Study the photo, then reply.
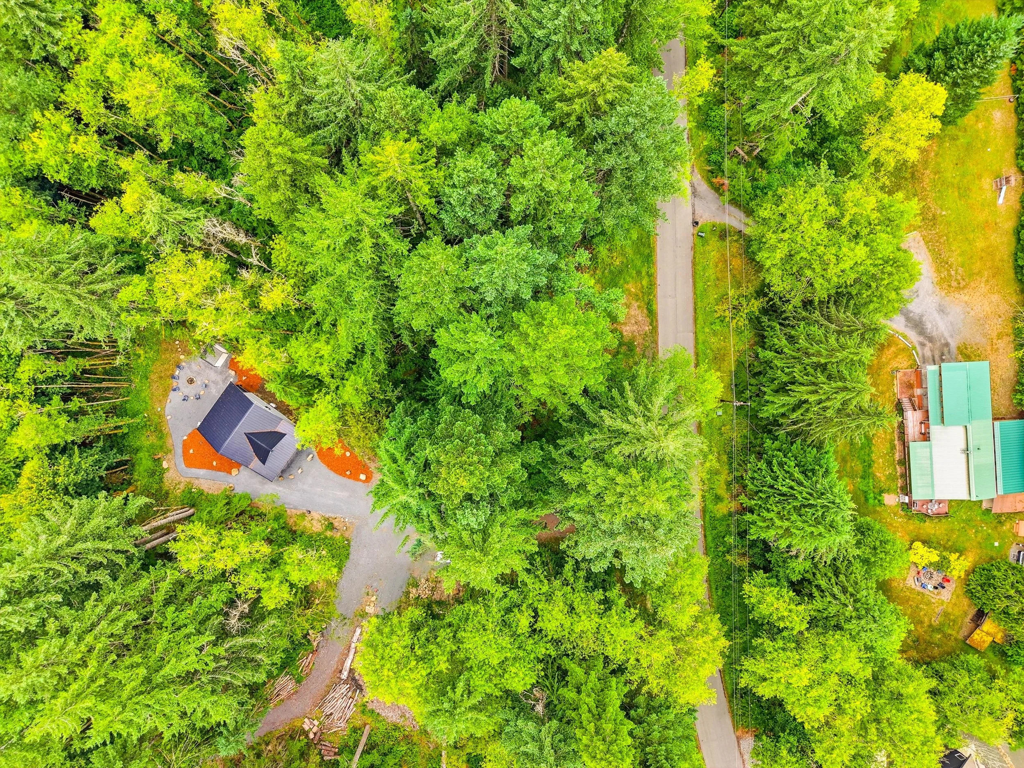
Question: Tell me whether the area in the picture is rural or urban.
rural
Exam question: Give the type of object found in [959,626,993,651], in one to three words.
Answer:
shed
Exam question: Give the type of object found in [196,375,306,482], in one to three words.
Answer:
building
